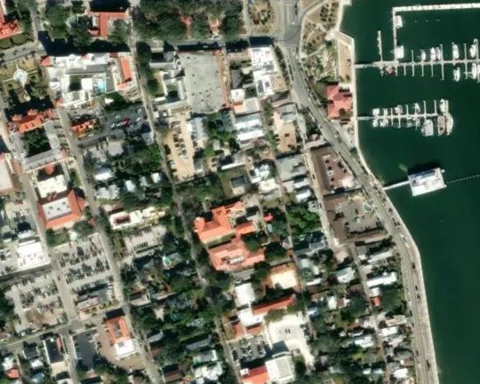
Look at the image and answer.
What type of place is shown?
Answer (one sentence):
What you see here is a residential area.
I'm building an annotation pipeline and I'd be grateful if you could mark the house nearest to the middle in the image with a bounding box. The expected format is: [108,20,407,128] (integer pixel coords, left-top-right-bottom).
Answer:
[229,174,250,195]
